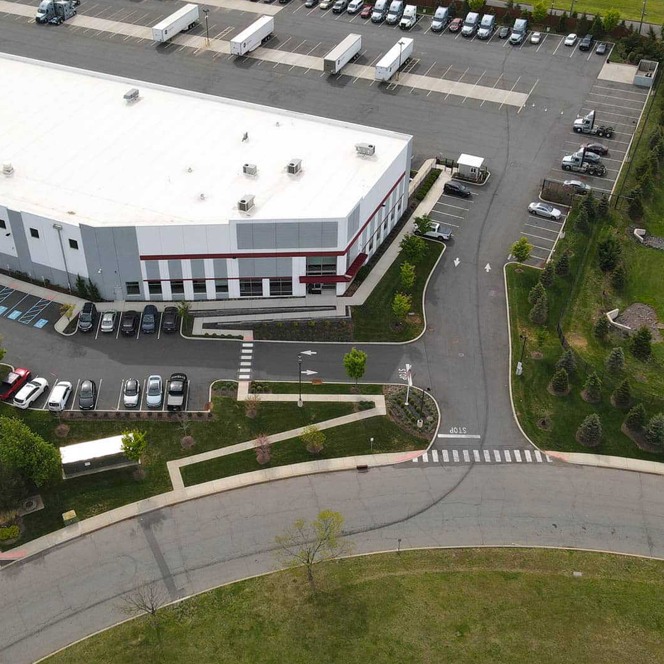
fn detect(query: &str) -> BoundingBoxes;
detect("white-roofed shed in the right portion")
[453,154,490,185]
